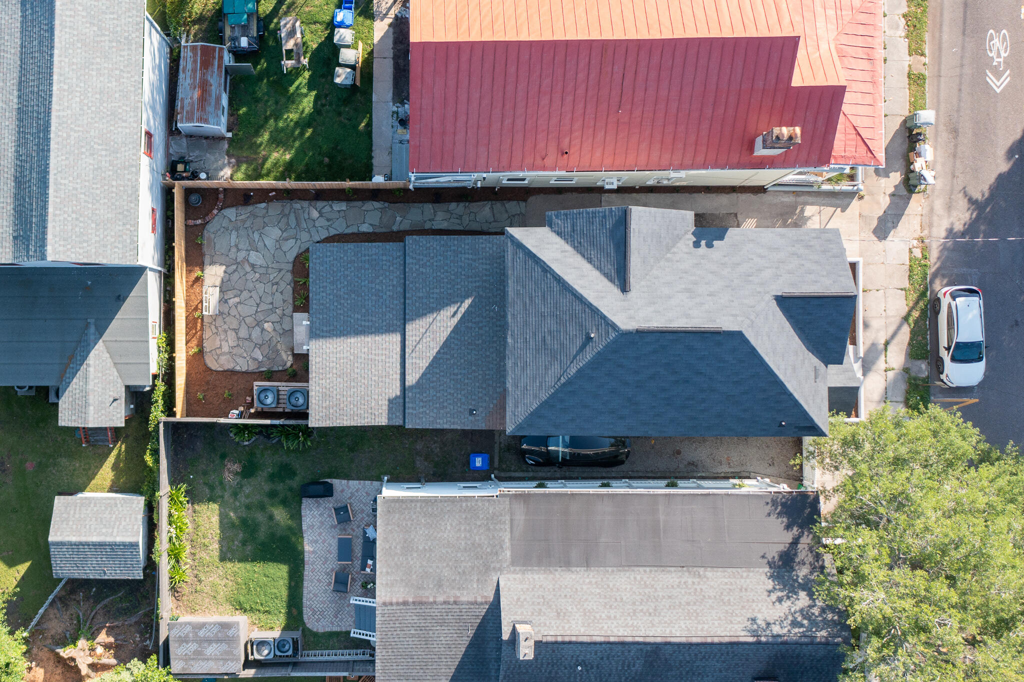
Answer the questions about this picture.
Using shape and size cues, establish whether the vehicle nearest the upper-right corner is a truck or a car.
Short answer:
car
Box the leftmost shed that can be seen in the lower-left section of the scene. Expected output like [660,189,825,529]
[48,487,156,579]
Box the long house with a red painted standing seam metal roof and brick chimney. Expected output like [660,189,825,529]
[405,0,889,196]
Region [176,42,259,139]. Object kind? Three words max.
shed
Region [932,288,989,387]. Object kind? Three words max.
car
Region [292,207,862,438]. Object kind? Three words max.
house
